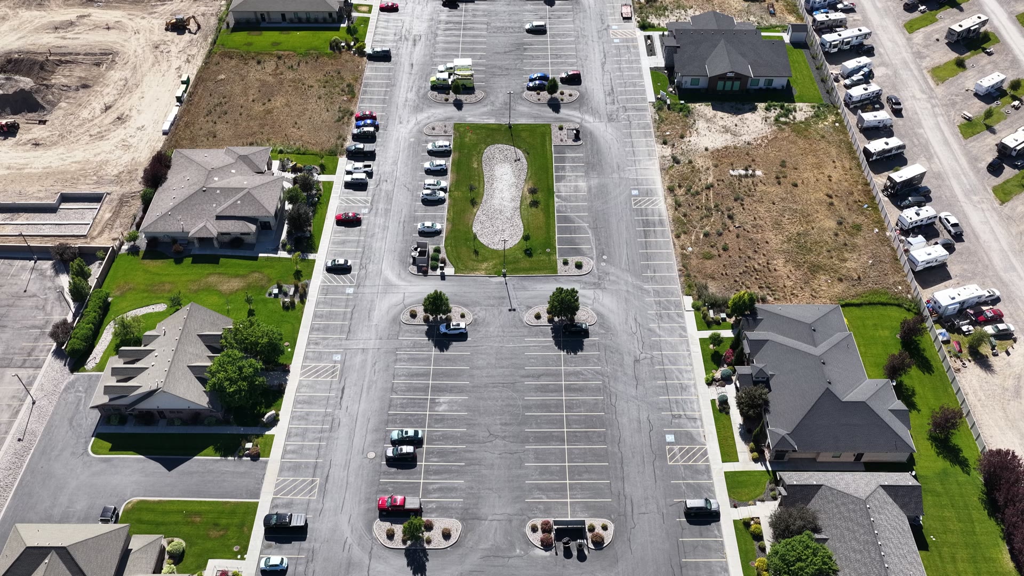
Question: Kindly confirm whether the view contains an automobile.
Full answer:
Yes, an automobile can be made out from above.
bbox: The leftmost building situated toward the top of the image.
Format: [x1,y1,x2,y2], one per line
[139,147,286,250]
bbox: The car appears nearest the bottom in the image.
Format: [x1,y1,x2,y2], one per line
[257,552,292,570]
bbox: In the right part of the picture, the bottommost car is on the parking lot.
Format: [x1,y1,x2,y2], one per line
[682,496,721,515]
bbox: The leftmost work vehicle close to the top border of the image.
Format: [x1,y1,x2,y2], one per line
[161,13,205,33]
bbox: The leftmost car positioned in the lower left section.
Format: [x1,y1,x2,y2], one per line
[98,495,122,523]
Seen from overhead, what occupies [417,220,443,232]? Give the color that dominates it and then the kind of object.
white vehicle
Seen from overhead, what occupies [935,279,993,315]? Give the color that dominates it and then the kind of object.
white trailer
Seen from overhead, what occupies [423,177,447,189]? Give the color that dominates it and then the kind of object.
white vehicle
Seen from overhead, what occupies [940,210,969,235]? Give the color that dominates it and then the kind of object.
white truck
